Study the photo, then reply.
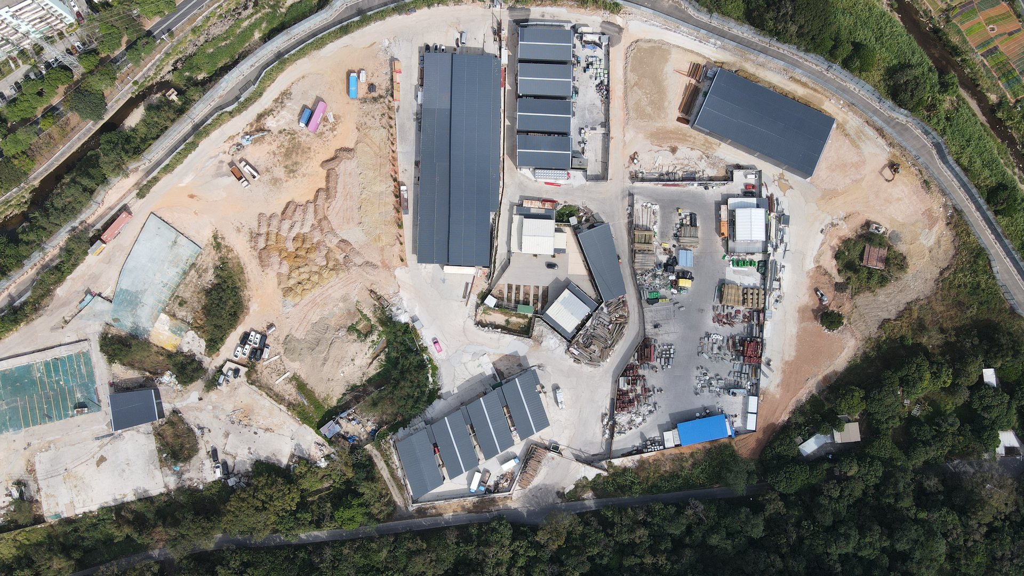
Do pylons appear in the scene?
Yes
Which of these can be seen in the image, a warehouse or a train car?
warehouse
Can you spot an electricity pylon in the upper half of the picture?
Yes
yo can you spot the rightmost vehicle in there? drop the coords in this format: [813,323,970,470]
[878,162,905,177]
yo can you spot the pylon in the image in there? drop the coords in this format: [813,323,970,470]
[22,33,87,80]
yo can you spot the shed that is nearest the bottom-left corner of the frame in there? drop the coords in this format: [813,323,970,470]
[109,389,164,431]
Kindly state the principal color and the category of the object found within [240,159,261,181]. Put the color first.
white truck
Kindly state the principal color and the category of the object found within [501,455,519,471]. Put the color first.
white vehicle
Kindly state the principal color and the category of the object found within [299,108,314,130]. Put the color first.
blue vehicle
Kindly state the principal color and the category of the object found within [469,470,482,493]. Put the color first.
white vehicle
